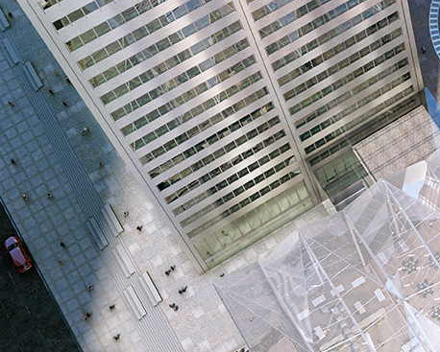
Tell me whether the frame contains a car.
Yes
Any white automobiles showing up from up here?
No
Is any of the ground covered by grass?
No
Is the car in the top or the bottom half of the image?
bottom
